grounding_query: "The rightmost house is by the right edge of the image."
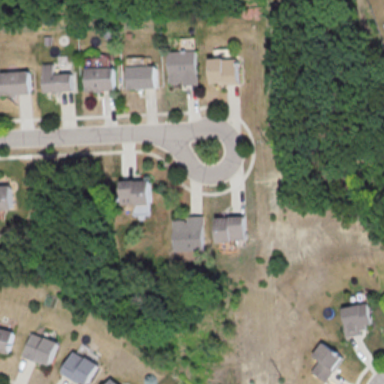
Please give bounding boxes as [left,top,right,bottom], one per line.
[342,304,372,340]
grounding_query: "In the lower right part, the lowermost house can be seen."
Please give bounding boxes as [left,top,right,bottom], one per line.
[308,341,343,382]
